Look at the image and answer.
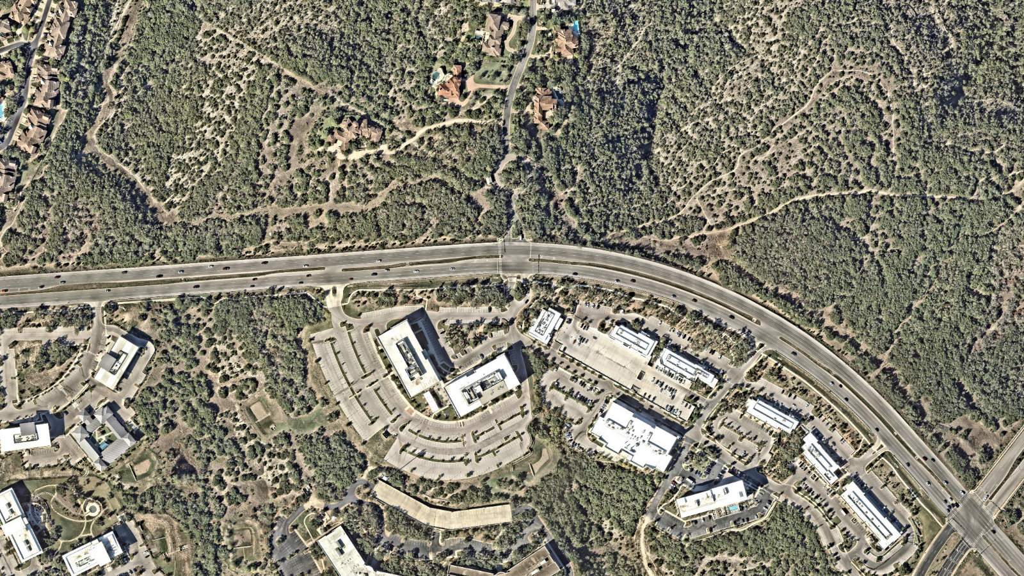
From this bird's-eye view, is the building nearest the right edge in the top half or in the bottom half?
bottom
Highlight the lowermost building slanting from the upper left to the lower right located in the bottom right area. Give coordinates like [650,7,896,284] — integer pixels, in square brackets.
[840,482,901,550]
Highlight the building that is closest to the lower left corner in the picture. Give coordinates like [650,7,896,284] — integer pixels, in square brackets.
[0,488,43,563]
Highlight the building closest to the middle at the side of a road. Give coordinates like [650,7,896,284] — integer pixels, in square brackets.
[528,308,563,344]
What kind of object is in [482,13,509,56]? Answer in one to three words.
house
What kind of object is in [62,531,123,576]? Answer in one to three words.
building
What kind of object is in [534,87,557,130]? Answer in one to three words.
house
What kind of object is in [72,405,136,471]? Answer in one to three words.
building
